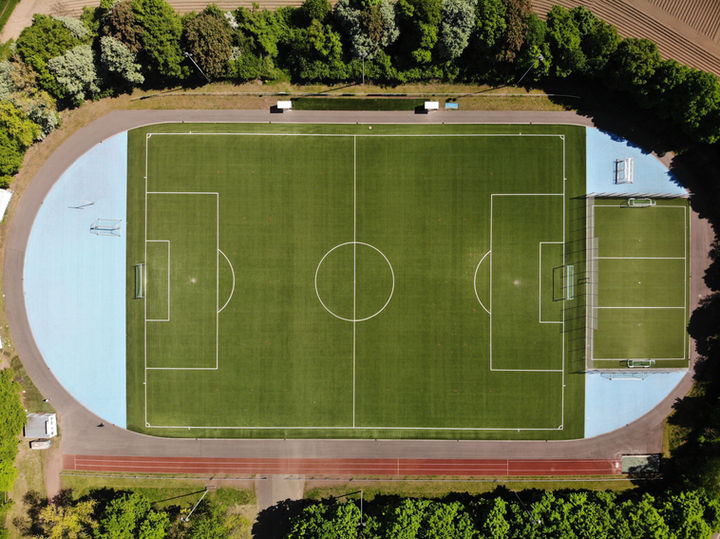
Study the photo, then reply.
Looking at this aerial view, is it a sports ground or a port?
sports ground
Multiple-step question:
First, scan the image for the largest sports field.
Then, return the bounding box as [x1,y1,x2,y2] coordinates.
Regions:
[127,123,586,441]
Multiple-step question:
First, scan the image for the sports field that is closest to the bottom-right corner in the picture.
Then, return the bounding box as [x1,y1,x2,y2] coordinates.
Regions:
[586,193,691,373]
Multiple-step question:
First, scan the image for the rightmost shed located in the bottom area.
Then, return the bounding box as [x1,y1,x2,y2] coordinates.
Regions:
[25,413,57,439]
